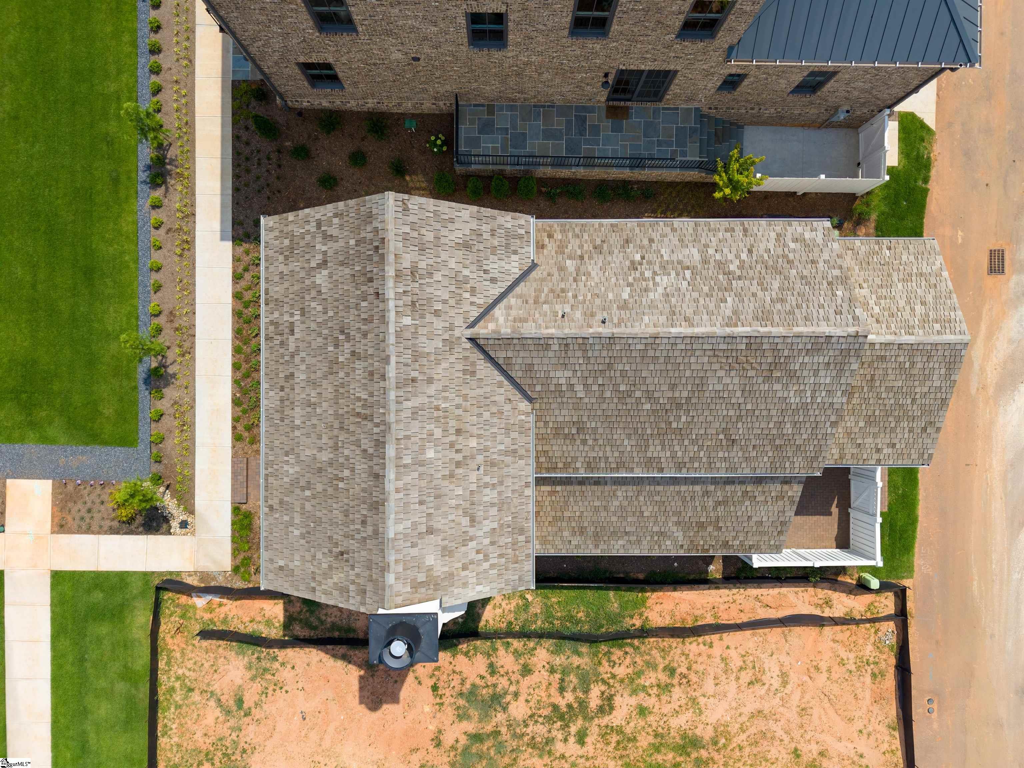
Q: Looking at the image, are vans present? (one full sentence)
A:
No, I can't see a single van in this photo.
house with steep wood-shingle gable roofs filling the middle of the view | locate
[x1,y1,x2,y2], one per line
[257,190,975,671]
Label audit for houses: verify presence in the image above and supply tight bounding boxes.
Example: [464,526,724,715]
[257,190,975,671]
[201,0,983,131]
